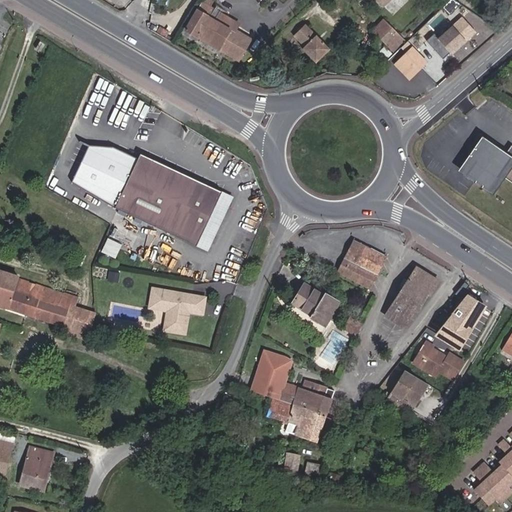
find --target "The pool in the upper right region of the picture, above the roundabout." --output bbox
[430,12,452,36]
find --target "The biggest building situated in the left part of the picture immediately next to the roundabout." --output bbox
[116,154,234,251]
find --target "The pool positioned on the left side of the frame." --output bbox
[110,302,144,326]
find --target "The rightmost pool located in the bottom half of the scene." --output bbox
[318,329,348,364]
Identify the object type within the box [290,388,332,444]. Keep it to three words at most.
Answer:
house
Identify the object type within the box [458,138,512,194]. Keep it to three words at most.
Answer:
building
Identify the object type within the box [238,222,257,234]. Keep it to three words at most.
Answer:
vehicle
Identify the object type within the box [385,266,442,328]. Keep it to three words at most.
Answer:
barn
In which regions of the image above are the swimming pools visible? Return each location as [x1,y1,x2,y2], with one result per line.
[430,12,452,36]
[110,302,144,326]
[318,329,348,364]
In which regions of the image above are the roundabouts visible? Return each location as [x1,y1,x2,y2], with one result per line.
[242,80,436,228]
